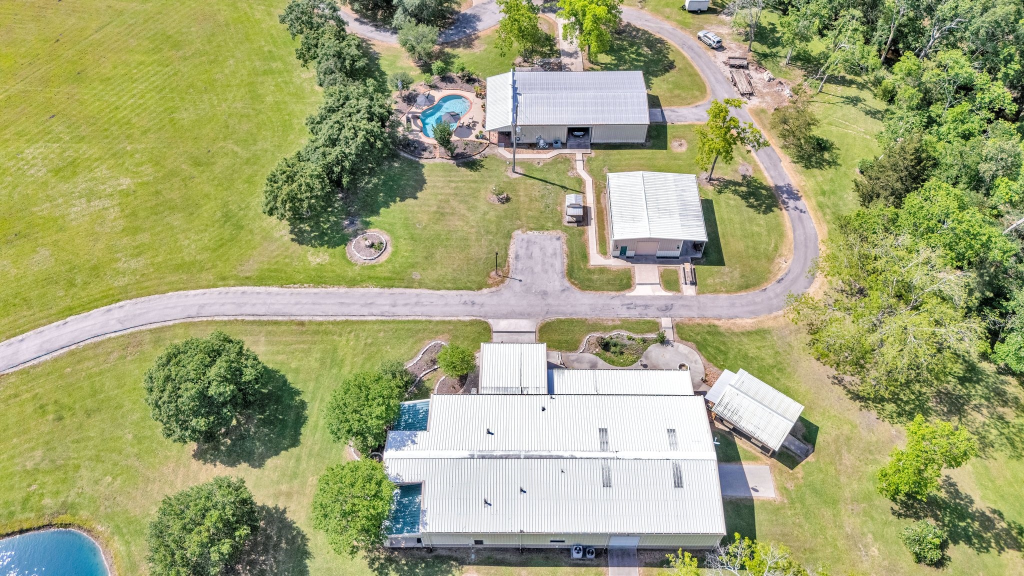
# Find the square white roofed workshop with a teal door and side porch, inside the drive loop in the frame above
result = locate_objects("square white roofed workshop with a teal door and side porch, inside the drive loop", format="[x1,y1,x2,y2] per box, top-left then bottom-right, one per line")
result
[603,166,709,258]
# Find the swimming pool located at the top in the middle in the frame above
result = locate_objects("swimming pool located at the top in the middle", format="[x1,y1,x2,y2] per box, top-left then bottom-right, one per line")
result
[418,92,477,140]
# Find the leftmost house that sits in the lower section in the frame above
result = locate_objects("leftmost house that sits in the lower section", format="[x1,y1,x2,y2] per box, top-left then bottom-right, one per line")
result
[382,342,727,555]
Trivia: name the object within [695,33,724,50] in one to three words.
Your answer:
car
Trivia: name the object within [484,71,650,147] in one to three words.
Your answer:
building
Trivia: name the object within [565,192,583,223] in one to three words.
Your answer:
shed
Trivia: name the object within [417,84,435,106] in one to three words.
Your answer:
umbrella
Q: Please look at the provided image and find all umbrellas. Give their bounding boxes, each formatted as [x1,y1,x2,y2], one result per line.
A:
[443,108,462,125]
[417,84,435,106]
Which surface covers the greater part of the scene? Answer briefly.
grass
